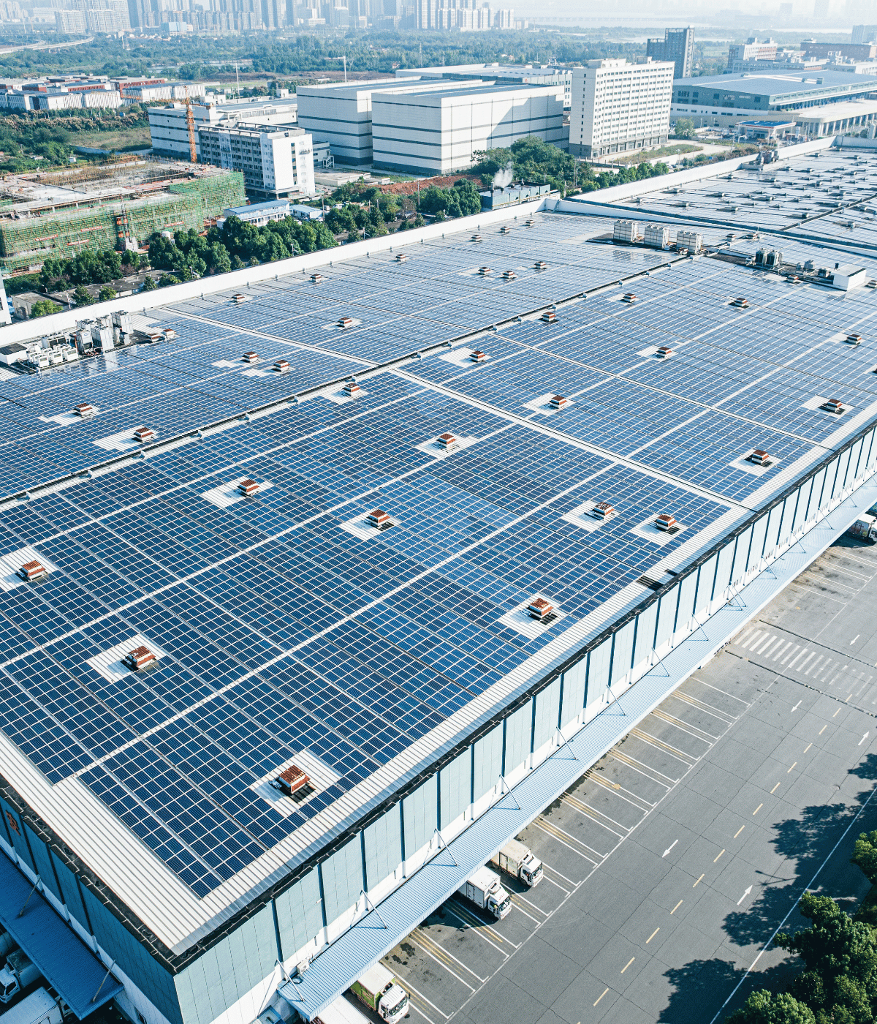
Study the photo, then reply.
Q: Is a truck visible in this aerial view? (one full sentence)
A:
Yes, the image includes a truck.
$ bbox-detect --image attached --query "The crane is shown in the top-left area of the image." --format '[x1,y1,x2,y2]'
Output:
[114,83,220,163]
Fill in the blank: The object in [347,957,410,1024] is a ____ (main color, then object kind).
white truck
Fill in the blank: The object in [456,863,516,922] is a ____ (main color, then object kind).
white truck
